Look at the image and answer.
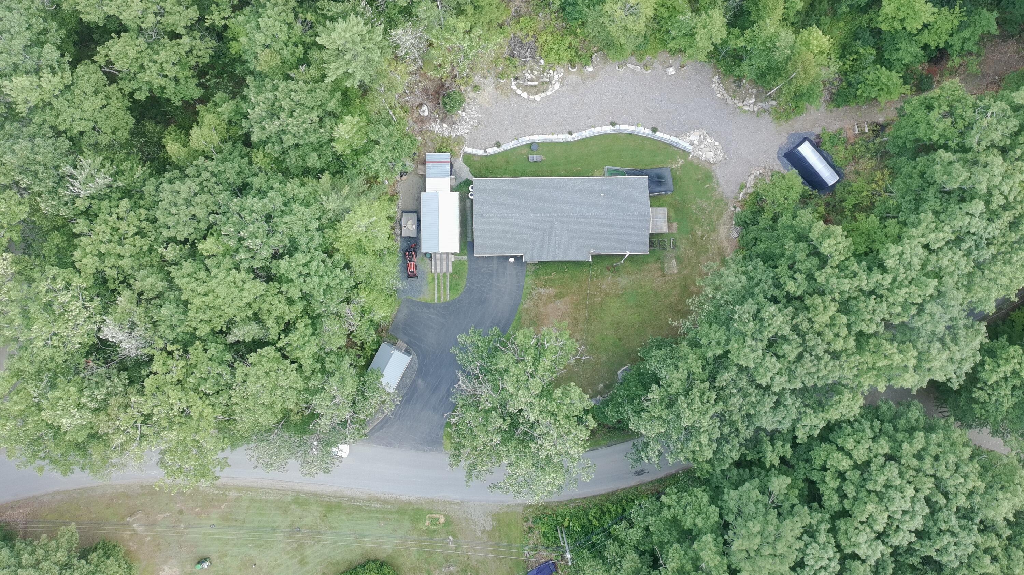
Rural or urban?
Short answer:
rural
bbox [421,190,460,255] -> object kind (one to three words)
building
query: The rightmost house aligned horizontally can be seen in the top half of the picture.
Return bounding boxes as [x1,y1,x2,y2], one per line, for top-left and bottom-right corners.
[472,176,651,261]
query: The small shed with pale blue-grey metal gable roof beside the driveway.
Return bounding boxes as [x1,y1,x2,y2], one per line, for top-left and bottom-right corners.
[366,343,413,394]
